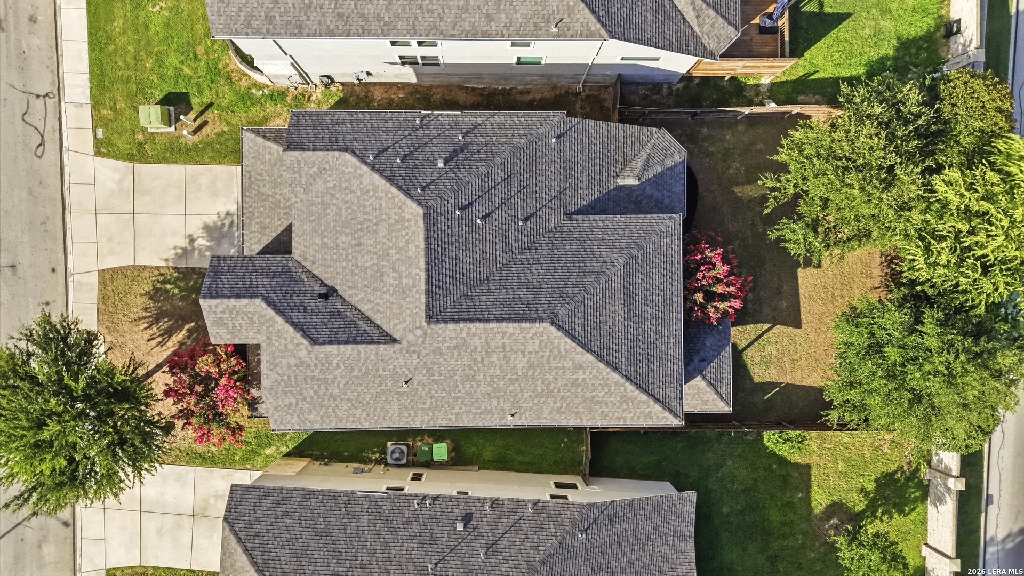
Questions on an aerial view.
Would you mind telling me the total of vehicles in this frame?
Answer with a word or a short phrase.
0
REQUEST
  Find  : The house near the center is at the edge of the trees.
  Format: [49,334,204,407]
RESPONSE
[198,108,734,432]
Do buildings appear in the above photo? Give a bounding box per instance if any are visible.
[219,458,695,576]
[202,0,741,91]
[198,108,734,432]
